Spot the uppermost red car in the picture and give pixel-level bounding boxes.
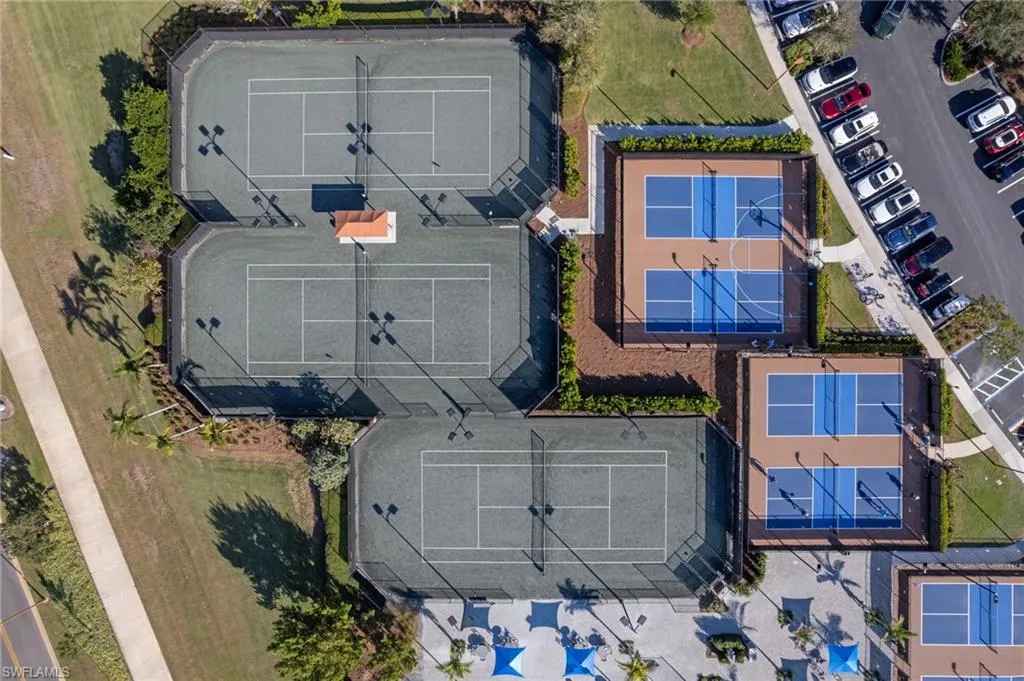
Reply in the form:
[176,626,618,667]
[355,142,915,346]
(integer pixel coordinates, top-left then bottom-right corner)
[820,83,872,119]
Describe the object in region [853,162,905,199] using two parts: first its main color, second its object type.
white car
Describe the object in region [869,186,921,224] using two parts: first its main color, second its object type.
white car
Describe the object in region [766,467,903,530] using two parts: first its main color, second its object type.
blue sports court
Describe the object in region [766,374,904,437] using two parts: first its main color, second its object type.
blue sports court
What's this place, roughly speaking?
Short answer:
sports ground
